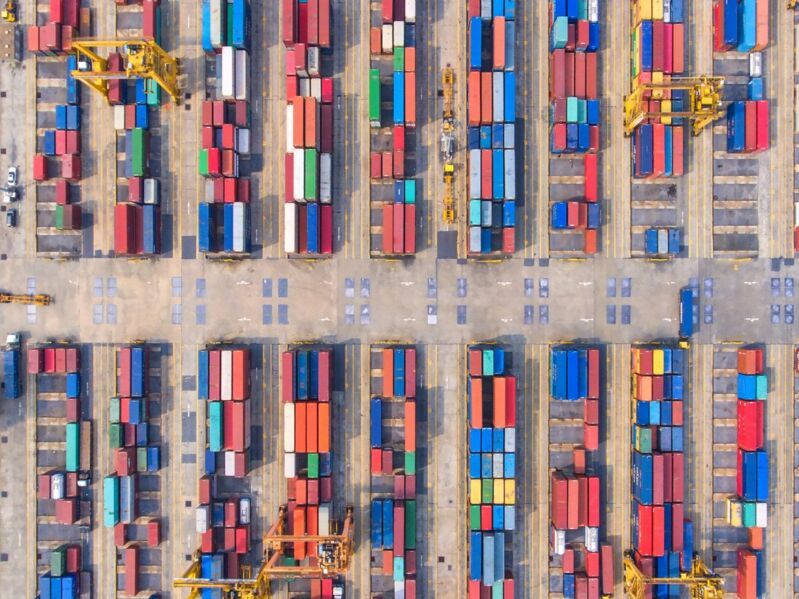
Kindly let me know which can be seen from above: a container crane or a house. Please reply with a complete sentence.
I can see a container crane in this picture.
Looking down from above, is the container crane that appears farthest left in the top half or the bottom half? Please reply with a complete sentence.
The container crane that appears farthest left sits in the top half of the picture.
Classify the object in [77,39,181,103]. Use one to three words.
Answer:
container crane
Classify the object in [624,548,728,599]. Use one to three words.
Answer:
container crane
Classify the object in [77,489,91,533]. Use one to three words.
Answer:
vehicle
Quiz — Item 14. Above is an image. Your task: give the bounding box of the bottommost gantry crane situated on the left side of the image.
[175,549,271,599]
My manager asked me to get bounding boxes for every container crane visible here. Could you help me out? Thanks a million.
[265,510,353,575]
[175,549,271,599]
[624,80,728,140]
[624,548,728,599]
[77,39,181,103]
